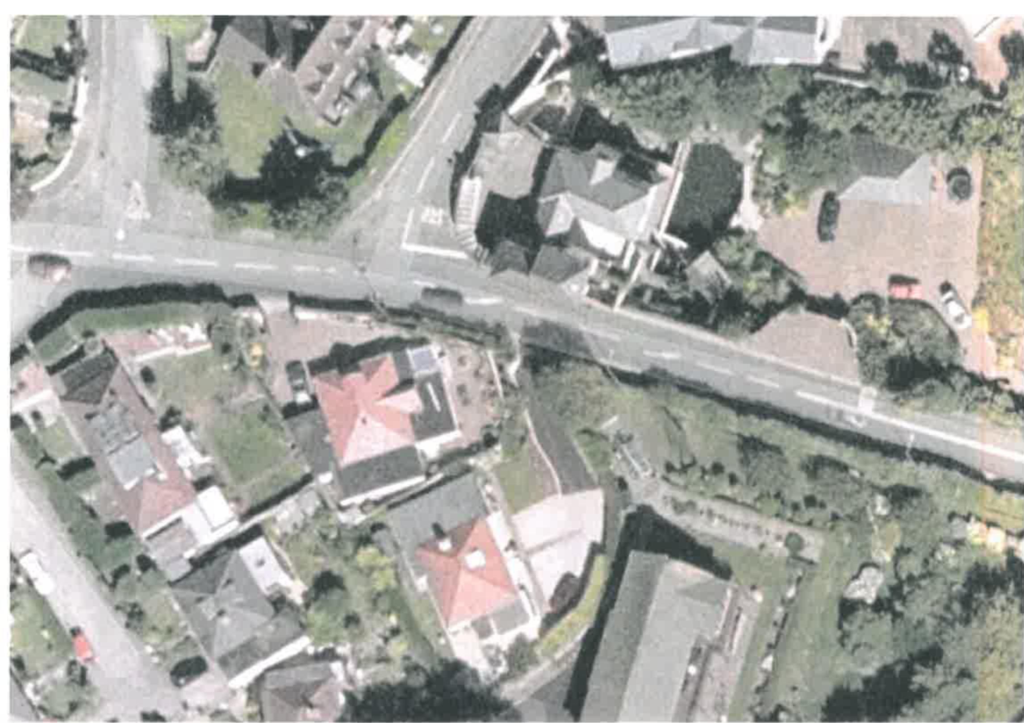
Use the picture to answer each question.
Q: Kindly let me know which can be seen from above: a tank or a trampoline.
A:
trampoline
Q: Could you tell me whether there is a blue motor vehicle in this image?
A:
No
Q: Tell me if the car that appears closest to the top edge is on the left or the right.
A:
right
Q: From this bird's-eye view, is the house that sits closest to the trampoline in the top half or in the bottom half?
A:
top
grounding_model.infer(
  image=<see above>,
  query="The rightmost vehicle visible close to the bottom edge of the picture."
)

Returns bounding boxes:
[168,658,212,687]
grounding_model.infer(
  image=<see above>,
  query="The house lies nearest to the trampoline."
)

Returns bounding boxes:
[837,147,932,204]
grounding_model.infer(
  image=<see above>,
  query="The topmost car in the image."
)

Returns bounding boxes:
[815,196,842,242]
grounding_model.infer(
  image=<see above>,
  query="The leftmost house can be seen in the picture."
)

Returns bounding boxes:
[55,352,212,583]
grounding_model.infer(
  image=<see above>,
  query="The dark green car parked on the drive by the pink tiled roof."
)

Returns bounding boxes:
[287,362,310,403]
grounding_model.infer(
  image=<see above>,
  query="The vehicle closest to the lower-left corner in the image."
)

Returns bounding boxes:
[70,627,97,668]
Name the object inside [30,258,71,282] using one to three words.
car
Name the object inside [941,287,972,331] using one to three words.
car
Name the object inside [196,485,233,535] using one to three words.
building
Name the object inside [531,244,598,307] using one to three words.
house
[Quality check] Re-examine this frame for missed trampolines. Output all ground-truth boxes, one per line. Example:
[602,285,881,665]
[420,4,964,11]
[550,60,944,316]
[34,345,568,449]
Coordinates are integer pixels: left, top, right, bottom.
[946,171,971,196]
